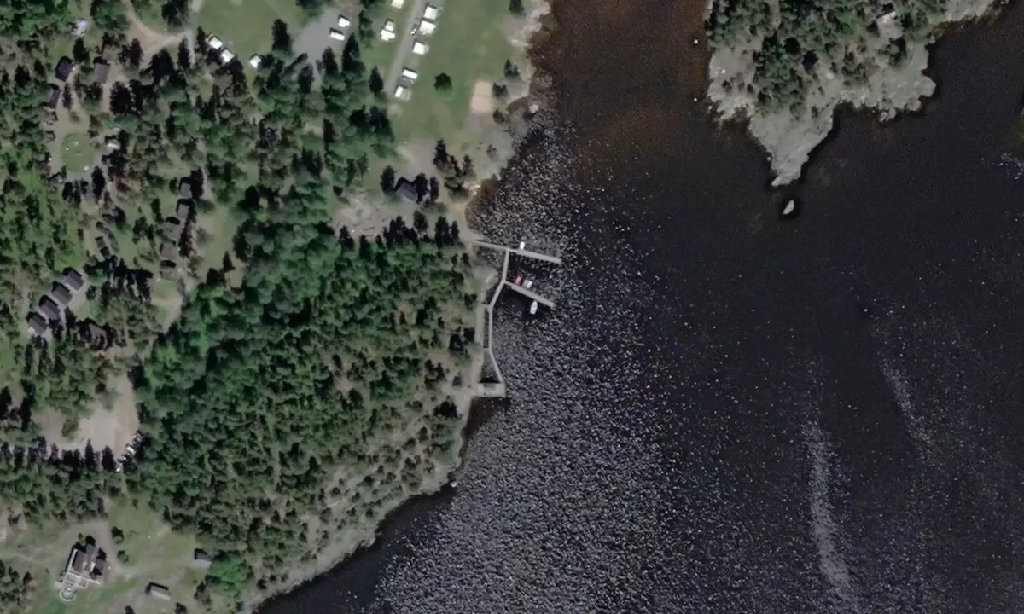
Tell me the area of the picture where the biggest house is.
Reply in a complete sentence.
The biggest house is in the bottom left part of the image.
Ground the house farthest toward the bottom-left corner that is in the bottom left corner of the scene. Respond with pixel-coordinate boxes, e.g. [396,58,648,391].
[60,546,107,602]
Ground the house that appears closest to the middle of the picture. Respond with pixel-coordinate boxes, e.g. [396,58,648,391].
[393,178,418,201]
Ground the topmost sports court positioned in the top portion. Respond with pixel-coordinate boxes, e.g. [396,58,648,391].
[471,80,492,114]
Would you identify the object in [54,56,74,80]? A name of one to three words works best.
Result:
house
